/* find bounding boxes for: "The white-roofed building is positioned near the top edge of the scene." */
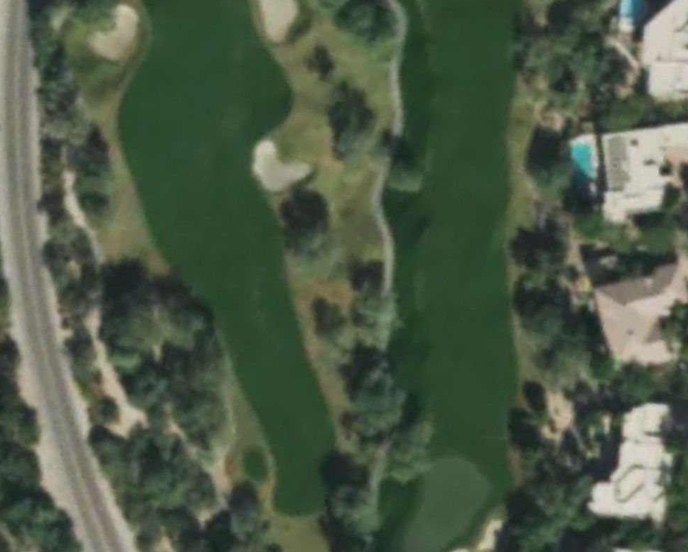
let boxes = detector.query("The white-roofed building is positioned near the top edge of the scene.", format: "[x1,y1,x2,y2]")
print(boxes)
[642,0,688,100]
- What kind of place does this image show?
golf course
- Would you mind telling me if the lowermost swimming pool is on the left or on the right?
right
